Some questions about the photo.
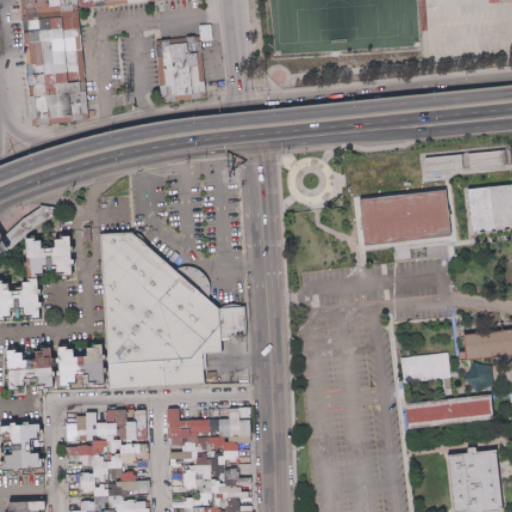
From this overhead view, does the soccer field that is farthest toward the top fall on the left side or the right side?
right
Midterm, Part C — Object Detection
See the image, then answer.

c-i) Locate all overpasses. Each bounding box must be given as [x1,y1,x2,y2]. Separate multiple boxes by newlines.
[0,86,512,203]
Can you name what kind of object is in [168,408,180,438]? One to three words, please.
house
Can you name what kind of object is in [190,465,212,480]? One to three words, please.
house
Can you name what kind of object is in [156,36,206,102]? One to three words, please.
building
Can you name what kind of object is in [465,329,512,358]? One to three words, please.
building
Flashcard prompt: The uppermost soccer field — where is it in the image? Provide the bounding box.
[271,0,422,58]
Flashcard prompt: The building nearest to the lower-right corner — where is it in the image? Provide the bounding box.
[448,447,504,512]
